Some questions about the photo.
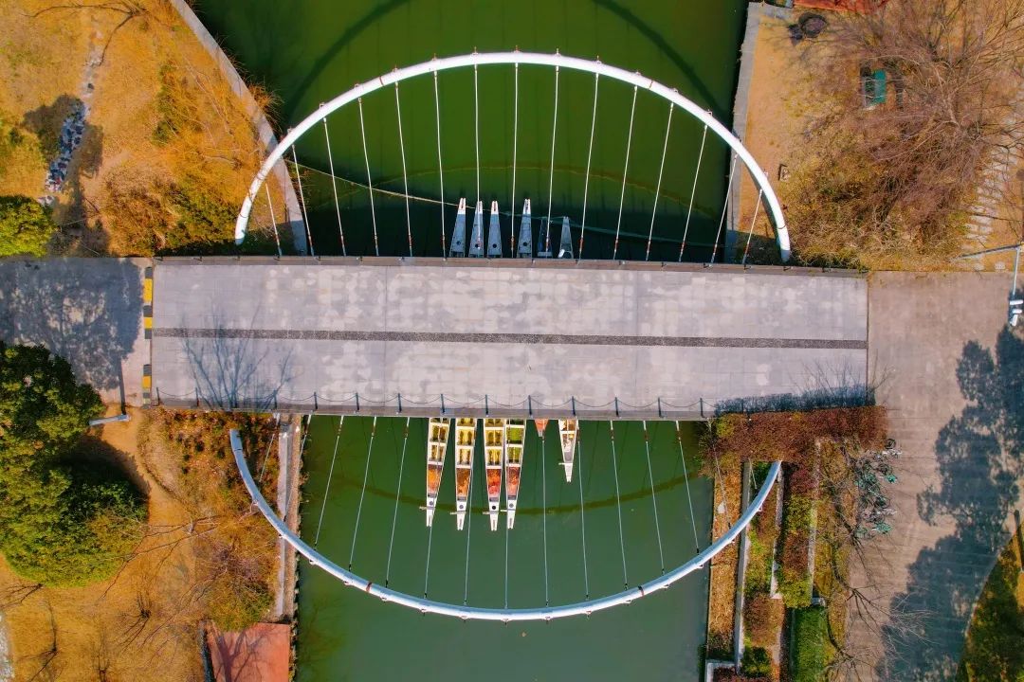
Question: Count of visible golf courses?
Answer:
0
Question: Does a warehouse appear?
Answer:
No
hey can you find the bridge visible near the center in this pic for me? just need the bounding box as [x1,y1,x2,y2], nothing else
[146,39,873,631]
